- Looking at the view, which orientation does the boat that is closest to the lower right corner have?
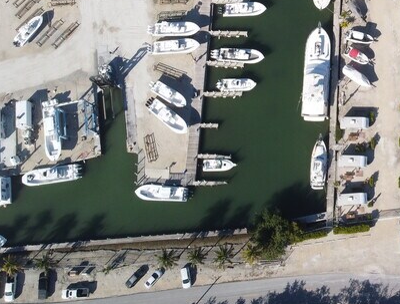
vertically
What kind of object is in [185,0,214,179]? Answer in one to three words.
pier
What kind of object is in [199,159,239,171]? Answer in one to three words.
boat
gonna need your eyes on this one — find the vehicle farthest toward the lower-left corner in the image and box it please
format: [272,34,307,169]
[3,275,18,301]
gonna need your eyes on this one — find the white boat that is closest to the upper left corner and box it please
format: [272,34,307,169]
[13,16,44,46]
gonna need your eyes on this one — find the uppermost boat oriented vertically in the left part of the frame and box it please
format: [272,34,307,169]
[35,101,61,161]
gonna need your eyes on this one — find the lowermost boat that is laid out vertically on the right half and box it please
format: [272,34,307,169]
[305,133,328,191]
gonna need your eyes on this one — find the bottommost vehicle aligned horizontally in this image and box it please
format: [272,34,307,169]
[62,286,91,298]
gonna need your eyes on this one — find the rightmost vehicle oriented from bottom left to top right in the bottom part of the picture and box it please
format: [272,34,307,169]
[145,266,166,289]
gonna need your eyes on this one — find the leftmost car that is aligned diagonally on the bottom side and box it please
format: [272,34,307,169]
[126,265,149,288]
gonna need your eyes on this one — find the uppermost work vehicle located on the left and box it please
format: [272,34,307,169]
[92,60,118,111]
